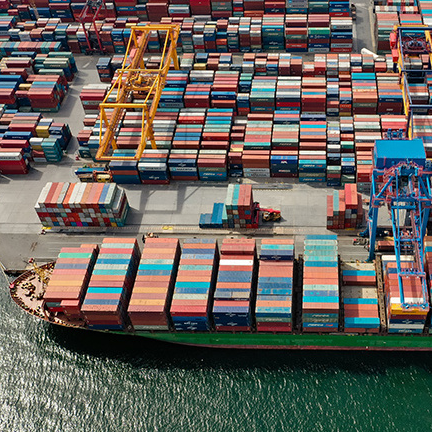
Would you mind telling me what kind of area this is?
port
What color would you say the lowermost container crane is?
blue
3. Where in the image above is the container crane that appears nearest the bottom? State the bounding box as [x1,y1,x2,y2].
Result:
[357,128,432,310]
